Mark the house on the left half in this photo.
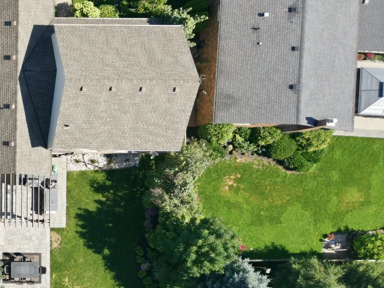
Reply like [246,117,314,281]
[0,0,201,176]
